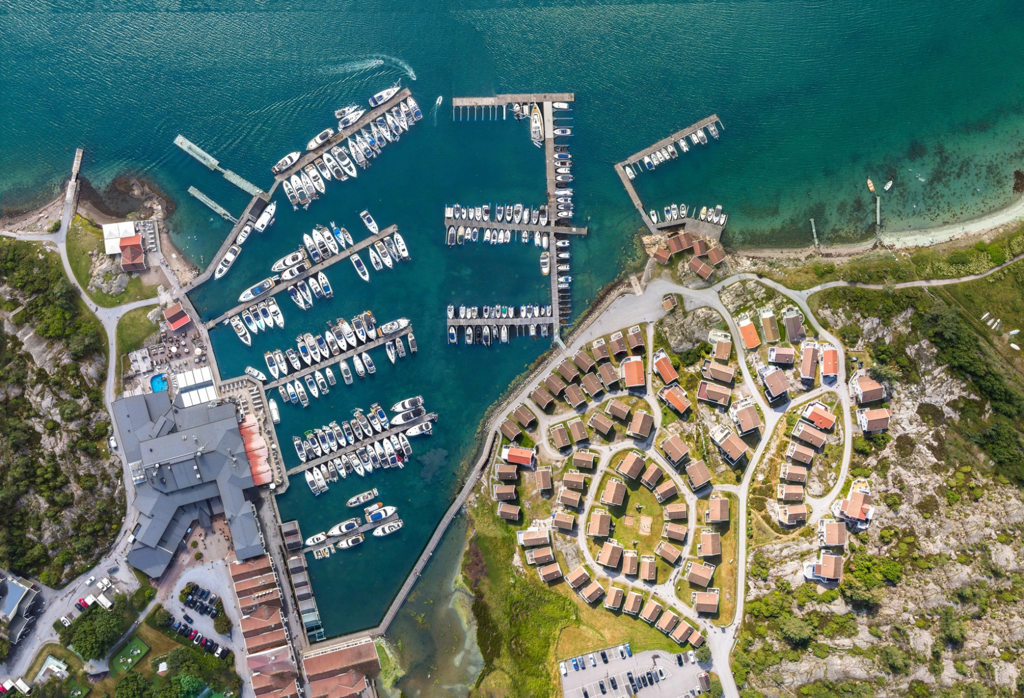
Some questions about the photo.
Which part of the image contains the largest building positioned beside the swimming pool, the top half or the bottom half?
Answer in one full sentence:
The largest building positioned beside the swimming pool sits in the bottom half of the picture.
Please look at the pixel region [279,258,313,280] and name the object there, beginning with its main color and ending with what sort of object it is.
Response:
white boat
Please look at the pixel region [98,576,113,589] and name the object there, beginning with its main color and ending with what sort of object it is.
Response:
white vehicle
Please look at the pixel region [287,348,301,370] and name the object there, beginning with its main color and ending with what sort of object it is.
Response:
white boat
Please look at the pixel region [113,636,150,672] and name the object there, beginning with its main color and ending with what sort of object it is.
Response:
green sports court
